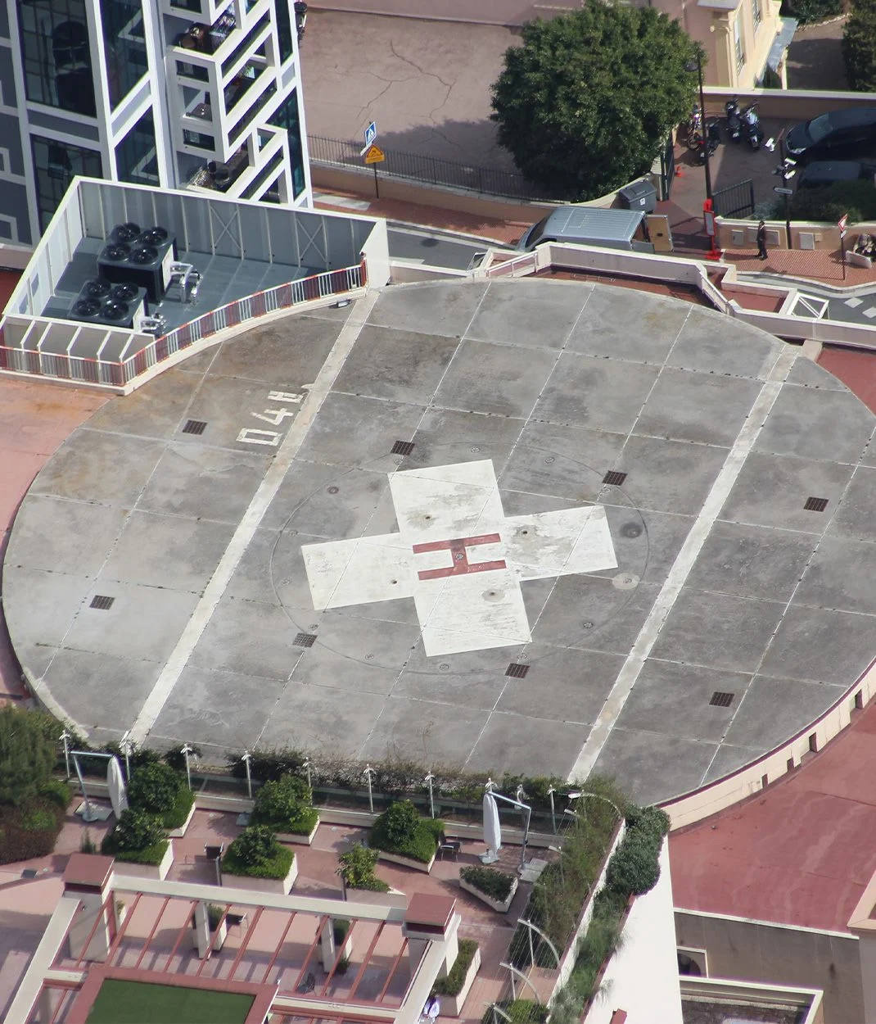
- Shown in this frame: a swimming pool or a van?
van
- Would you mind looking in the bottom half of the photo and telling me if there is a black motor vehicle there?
No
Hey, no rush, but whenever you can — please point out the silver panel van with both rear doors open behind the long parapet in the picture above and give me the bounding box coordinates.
[510,203,671,254]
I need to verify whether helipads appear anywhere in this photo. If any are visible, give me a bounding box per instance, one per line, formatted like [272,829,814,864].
[1,279,876,837]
